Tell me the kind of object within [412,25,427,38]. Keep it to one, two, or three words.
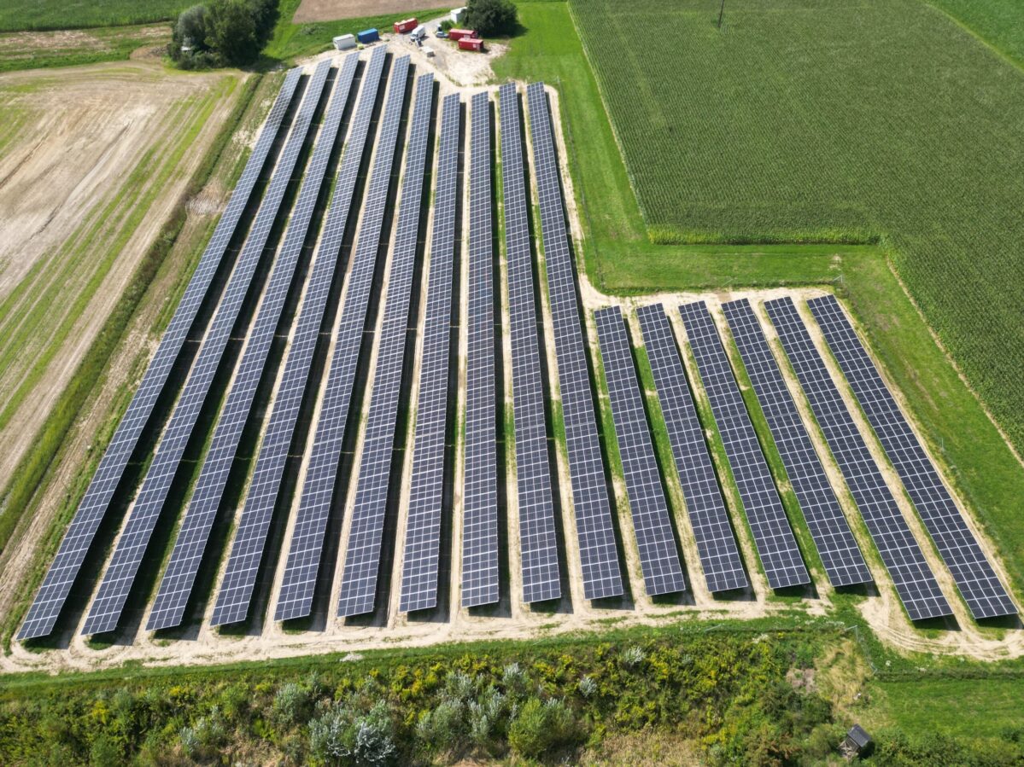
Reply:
vehicle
